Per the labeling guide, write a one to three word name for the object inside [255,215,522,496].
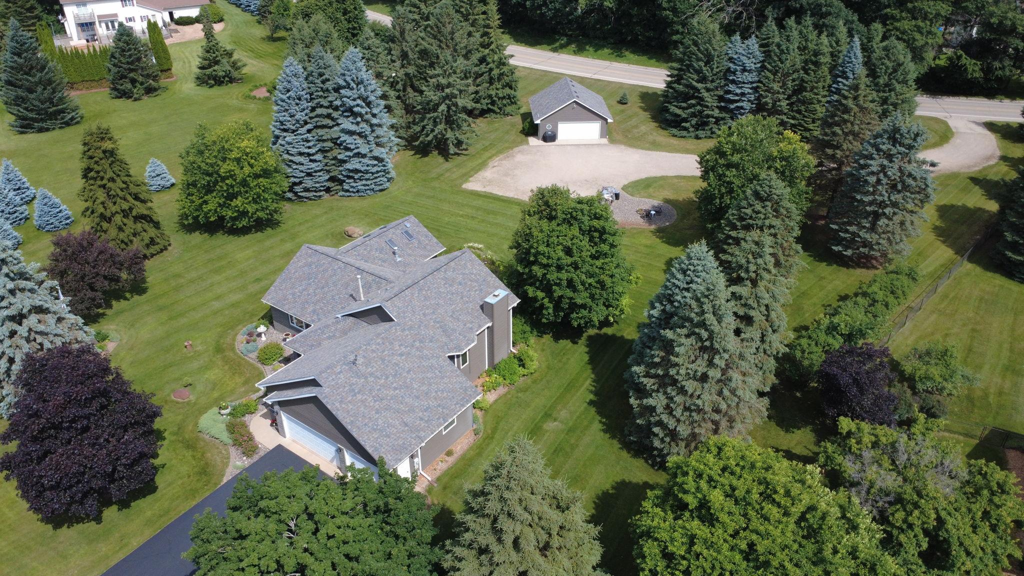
house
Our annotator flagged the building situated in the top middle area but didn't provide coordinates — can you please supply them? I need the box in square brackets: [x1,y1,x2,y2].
[529,77,615,141]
